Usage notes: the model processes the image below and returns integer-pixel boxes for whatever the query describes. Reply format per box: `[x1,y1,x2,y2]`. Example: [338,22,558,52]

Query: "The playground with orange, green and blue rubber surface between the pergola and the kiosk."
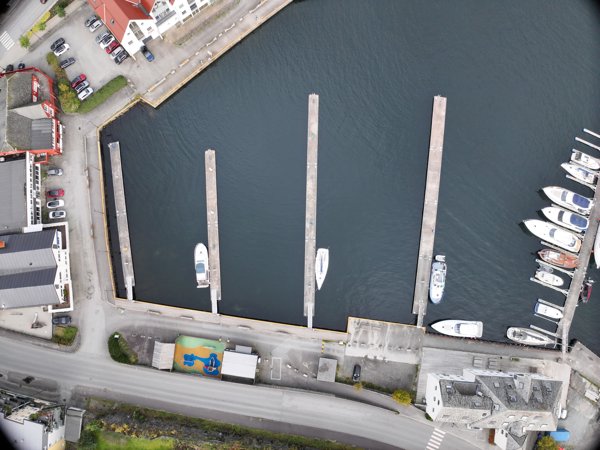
[173,336,226,380]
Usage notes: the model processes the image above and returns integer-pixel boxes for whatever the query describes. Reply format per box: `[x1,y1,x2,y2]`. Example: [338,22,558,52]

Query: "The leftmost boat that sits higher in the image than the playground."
[195,243,212,290]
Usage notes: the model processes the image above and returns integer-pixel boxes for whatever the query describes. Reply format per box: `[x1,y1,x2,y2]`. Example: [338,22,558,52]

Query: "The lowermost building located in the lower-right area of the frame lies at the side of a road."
[424,369,562,450]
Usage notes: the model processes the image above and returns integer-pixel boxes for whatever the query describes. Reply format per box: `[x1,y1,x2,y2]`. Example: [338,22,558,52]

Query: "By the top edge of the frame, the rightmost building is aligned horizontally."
[84,0,214,59]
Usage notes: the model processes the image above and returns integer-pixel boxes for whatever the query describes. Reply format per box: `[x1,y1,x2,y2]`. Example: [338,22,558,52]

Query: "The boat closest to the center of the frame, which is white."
[312,248,329,289]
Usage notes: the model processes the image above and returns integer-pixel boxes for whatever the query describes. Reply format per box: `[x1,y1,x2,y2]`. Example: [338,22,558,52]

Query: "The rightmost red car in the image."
[104,40,120,54]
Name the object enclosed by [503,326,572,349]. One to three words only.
boat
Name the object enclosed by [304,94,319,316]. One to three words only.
pier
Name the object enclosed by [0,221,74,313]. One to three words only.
building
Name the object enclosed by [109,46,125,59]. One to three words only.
vehicle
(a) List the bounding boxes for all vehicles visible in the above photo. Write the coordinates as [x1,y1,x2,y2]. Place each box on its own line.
[49,37,66,51]
[352,363,362,381]
[48,210,67,219]
[53,43,70,57]
[83,14,99,28]
[109,46,125,59]
[104,40,120,54]
[142,49,155,61]
[46,200,65,208]
[46,189,65,197]
[74,80,90,94]
[77,87,94,101]
[59,56,76,69]
[98,35,116,49]
[94,30,111,44]
[53,316,73,325]
[70,73,87,87]
[114,50,130,64]
[87,19,104,33]
[4,64,15,71]
[16,63,26,70]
